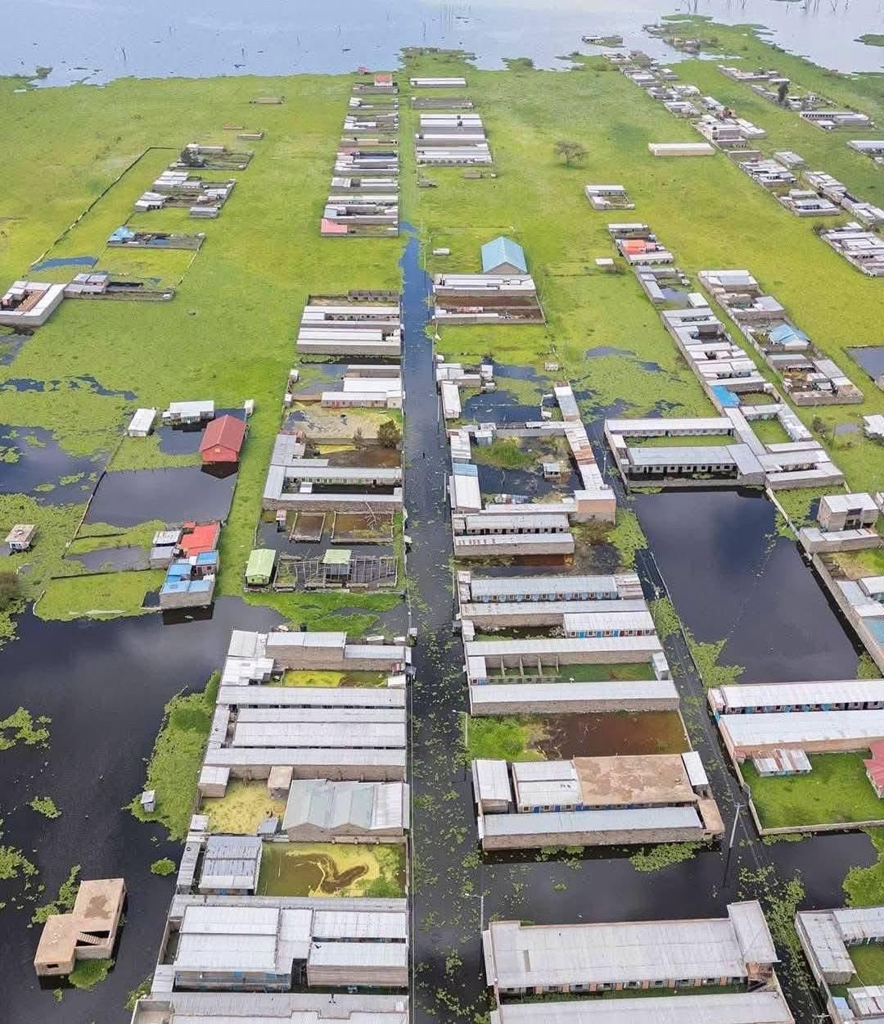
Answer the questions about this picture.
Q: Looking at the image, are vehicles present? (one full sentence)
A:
No, the photo shows no vehicle.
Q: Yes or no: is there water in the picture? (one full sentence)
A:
Yes, water can be seen from above here.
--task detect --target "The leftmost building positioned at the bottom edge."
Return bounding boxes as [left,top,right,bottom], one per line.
[34,879,127,980]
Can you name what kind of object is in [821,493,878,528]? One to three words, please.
house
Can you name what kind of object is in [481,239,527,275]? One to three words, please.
building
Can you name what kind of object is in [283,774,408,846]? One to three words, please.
building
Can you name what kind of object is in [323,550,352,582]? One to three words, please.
shed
